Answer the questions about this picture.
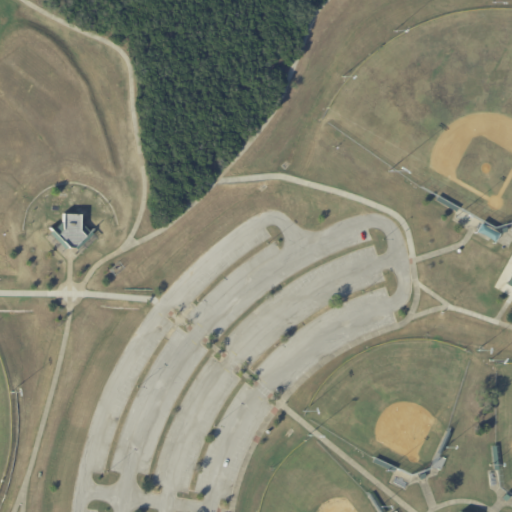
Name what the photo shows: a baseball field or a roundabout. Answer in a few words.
baseball field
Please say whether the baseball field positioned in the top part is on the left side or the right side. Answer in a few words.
right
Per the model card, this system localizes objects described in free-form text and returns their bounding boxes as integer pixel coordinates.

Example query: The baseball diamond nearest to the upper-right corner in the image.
[324,8,512,226]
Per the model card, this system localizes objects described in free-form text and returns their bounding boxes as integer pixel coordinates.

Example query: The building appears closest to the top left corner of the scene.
[48,214,98,250]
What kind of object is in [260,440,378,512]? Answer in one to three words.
baseball field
